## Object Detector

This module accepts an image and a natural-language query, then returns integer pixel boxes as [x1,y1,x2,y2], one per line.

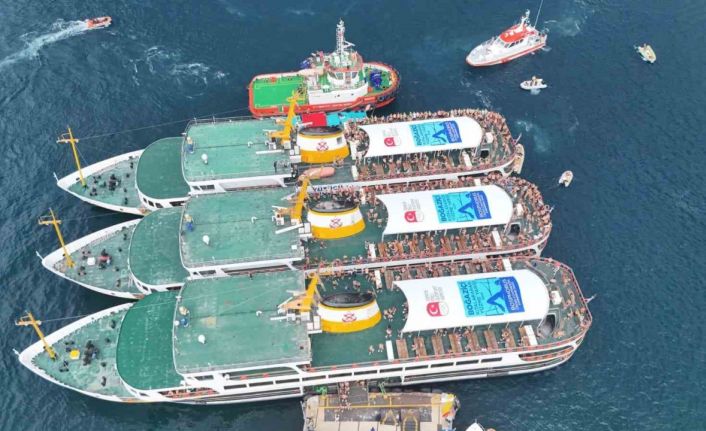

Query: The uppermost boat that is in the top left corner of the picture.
[82,18,112,31]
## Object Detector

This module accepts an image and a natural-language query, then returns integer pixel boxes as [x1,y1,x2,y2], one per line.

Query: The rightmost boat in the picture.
[635,45,657,61]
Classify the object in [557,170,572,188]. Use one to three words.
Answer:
boat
